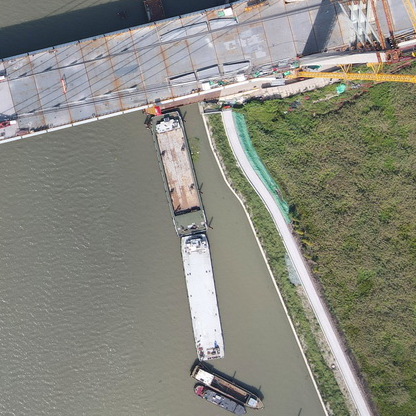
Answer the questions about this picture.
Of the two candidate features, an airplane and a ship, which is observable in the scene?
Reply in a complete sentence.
This aerial view contains a ship.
